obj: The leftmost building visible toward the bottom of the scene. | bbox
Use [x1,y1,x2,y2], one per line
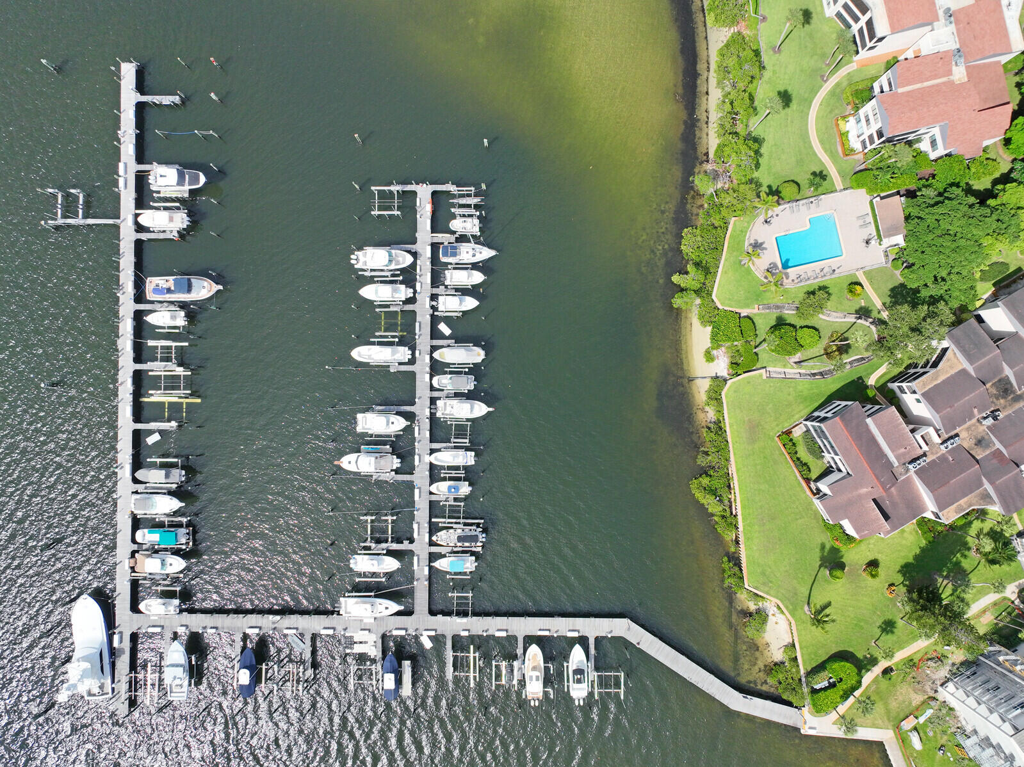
[805,401,938,538]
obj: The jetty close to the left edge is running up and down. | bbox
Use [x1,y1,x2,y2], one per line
[48,58,187,715]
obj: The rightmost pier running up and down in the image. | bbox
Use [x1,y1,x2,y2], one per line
[371,181,456,617]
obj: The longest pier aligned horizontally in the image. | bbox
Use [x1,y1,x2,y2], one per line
[130,613,802,729]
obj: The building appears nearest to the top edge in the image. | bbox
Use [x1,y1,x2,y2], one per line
[824,0,1024,80]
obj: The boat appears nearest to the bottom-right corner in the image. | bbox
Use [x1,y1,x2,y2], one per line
[917,707,933,723]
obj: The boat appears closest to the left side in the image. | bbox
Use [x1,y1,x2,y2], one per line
[60,596,117,703]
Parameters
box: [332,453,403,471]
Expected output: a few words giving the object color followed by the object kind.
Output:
white boat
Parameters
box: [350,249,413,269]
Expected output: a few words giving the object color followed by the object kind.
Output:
white boat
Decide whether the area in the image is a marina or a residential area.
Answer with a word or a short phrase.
marina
